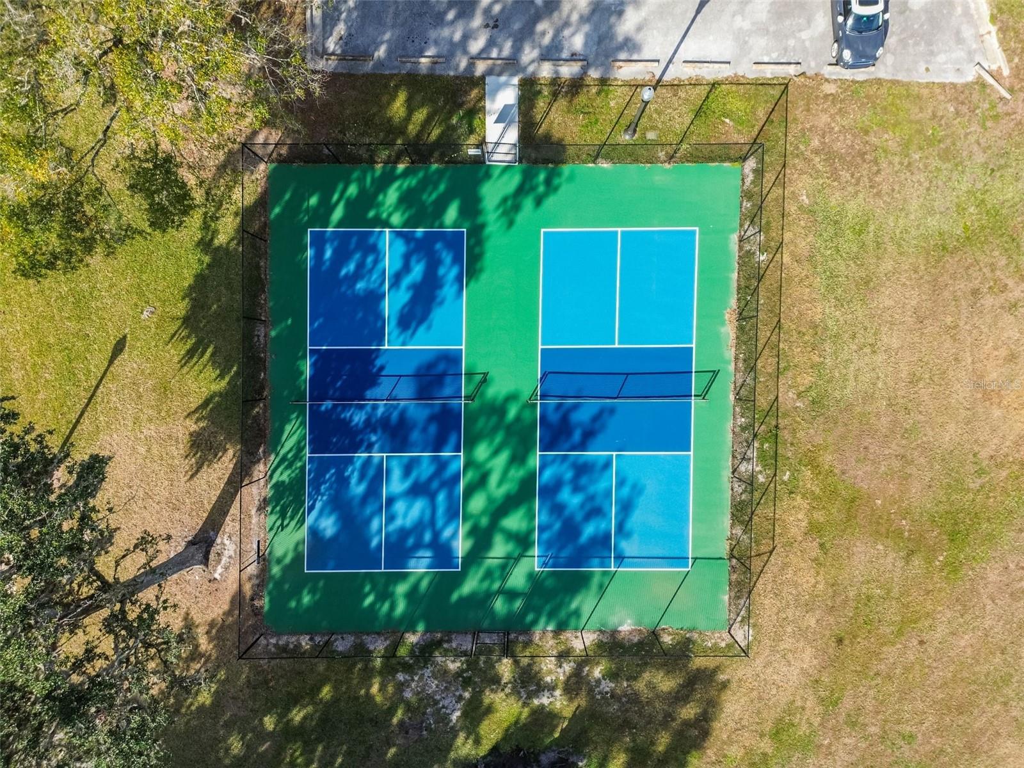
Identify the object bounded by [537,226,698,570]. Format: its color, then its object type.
blue sports court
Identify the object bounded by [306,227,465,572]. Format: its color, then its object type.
blue sports court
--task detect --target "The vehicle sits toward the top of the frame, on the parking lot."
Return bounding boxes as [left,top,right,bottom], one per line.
[829,0,891,68]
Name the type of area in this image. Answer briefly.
sports ground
